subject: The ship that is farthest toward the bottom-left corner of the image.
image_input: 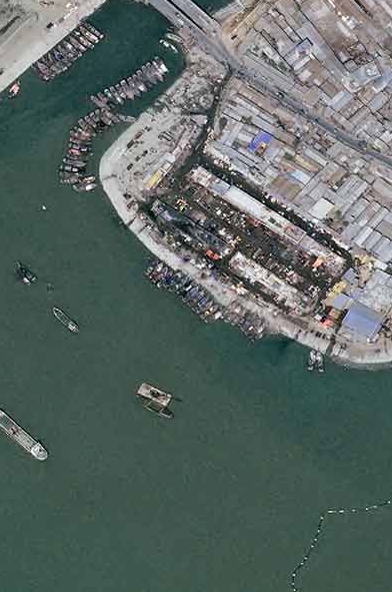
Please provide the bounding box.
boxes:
[0,410,49,462]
